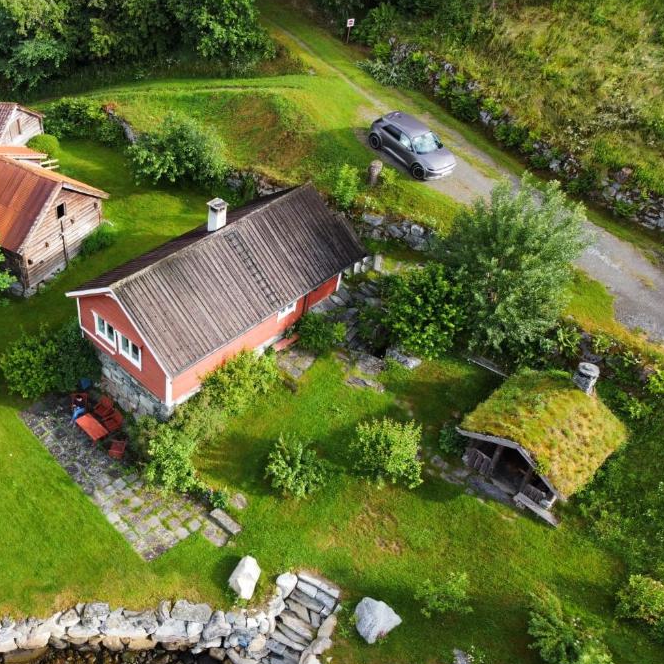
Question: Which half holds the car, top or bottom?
top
